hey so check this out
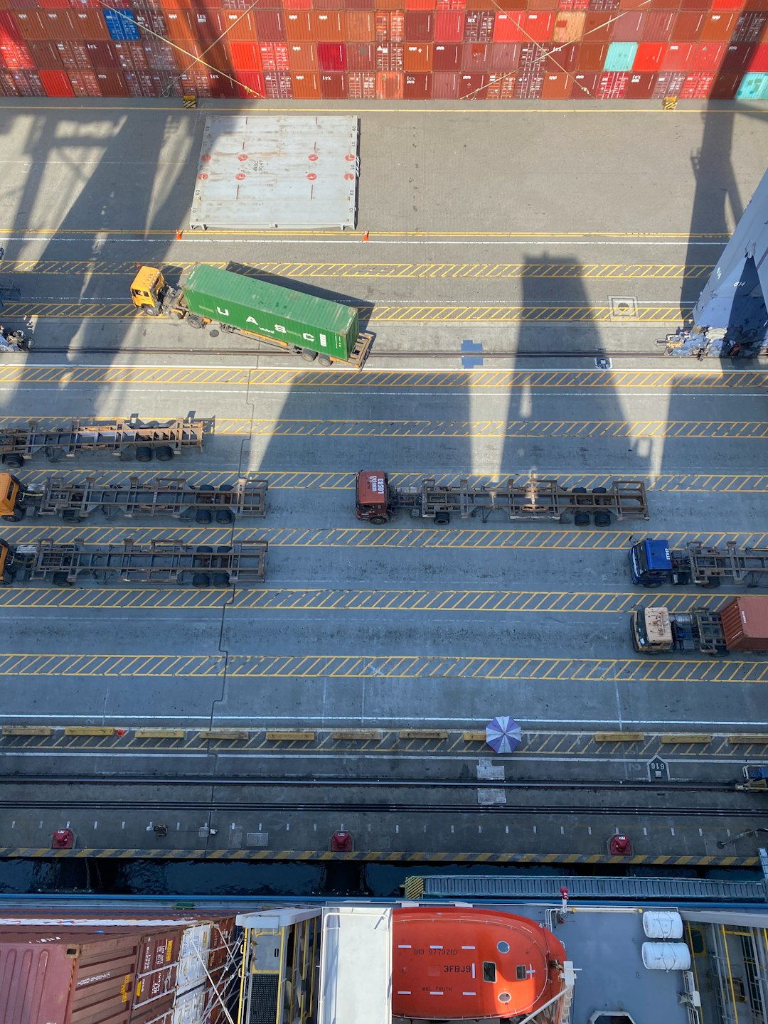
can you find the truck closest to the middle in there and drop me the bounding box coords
[351,471,450,526]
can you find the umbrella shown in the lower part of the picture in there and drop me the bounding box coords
[484,718,520,754]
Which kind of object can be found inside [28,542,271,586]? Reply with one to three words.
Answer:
trailer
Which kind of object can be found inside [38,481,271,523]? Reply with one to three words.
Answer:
trailer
